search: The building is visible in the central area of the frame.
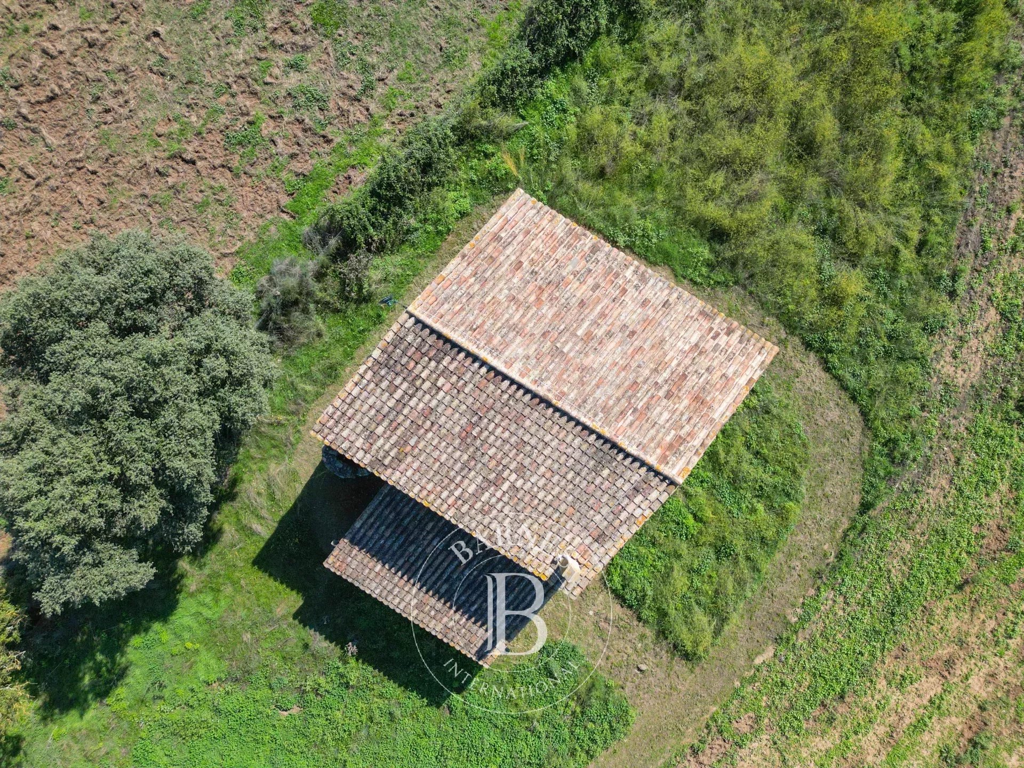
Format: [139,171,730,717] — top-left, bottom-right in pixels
[312,187,778,668]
